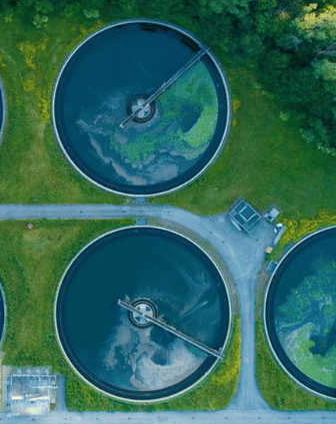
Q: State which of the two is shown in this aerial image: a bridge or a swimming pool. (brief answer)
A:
bridge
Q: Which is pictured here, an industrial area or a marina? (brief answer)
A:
industrial area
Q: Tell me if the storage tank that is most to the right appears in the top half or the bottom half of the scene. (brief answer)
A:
bottom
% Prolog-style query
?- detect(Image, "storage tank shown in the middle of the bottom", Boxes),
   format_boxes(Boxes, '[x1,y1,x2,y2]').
[53,225,232,404]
